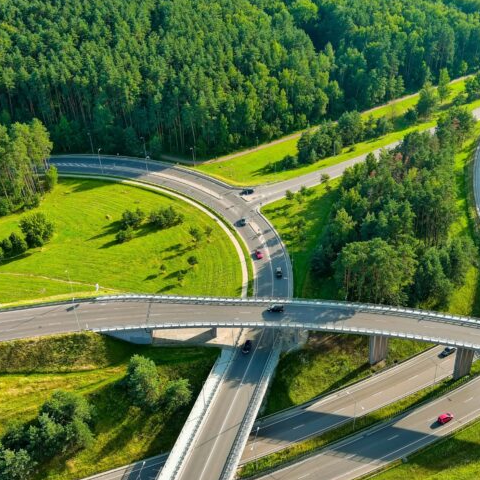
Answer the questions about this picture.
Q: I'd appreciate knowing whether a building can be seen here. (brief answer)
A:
No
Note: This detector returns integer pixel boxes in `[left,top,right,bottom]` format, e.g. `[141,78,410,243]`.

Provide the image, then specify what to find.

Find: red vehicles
[254,249,262,259]
[435,413,453,425]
